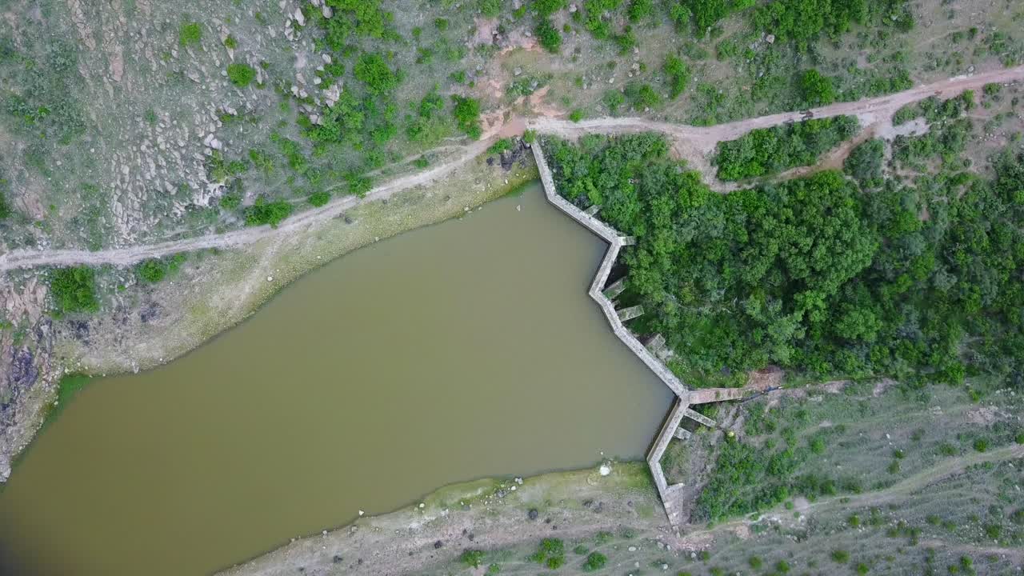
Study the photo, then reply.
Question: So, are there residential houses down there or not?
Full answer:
No, the photo shows no residential house.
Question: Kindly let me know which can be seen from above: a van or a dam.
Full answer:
Visible in the photo is a dam.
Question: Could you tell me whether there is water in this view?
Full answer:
Yes, there is water in the image.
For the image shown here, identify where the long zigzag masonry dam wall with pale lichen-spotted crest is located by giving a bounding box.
[531,142,754,525]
